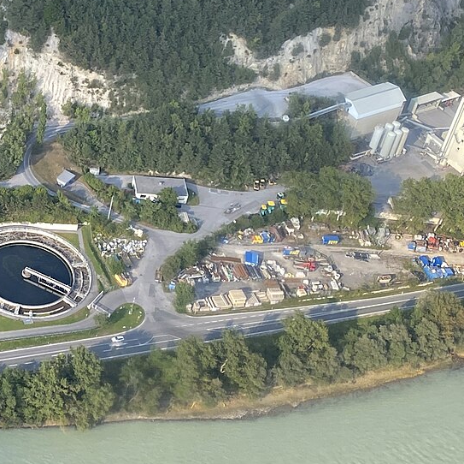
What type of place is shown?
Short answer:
industrial area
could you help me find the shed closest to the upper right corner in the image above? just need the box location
[404,90,446,115]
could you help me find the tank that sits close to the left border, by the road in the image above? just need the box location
[0,226,92,322]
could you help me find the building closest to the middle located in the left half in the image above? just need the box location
[134,177,189,205]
